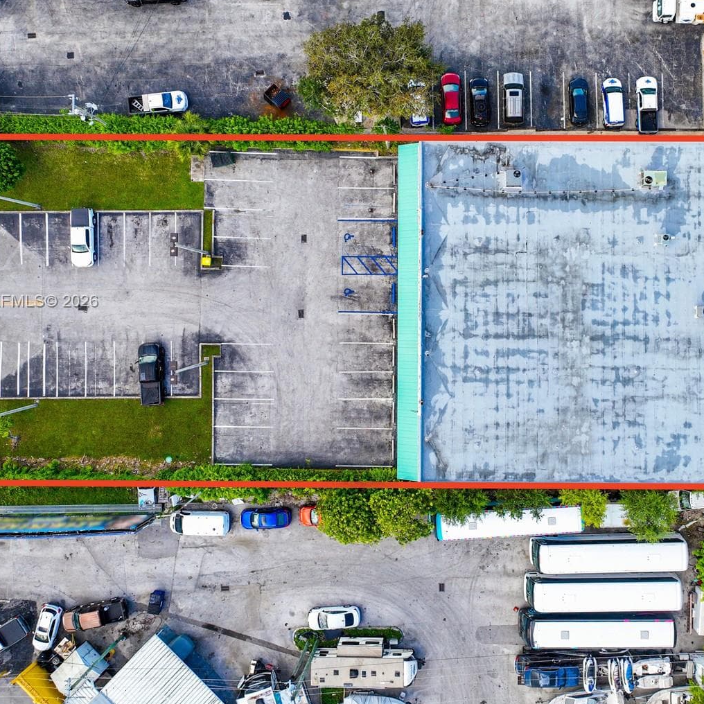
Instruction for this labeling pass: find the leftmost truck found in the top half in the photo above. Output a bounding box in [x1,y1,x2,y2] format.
[69,208,97,266]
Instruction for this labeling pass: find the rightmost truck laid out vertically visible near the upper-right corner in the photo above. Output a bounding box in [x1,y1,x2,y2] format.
[635,77,661,135]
